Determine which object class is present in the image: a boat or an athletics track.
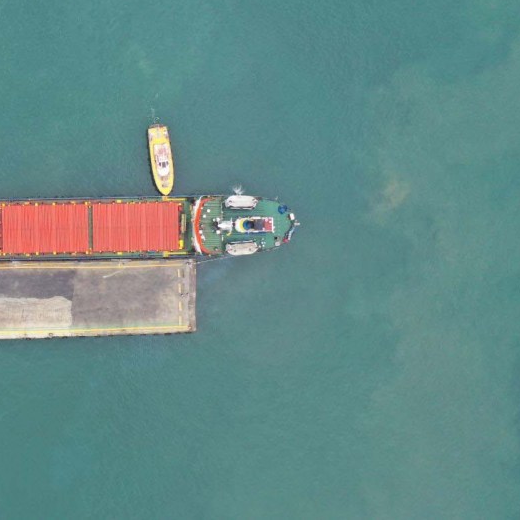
boat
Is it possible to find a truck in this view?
No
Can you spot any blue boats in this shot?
No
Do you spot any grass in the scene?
No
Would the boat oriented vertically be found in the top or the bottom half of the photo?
top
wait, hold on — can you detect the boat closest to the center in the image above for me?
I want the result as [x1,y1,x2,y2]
[226,241,258,254]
